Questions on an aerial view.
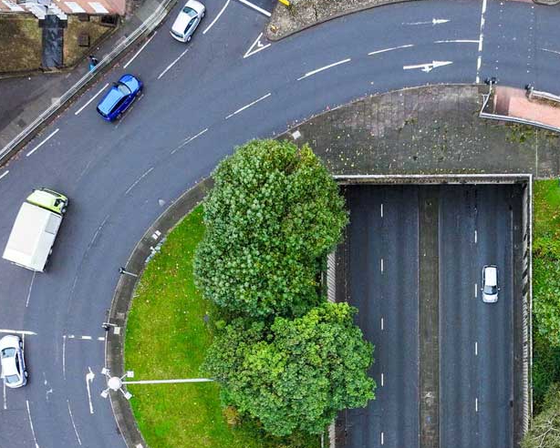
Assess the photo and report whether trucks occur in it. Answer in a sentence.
Yes, a truck appears in the view.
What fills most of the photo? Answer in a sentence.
For the most part, this view shows paved ground.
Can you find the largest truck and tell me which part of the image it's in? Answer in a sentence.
The largest truck is located in the left region of the scene.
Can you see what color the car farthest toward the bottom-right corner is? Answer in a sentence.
In this view, the car farthest toward the bottom-right corner is white.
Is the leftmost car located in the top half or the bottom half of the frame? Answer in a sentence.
It is in the bottom half that the leftmost car appears.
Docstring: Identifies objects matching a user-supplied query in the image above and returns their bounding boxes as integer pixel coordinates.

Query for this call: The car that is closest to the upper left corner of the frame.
[97,75,142,124]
